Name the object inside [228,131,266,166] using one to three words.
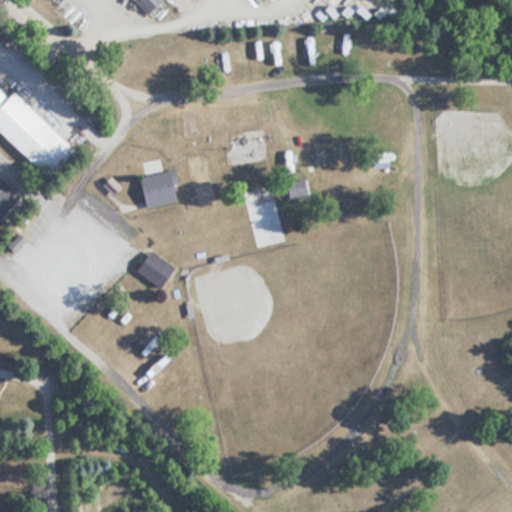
playground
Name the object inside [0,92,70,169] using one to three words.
building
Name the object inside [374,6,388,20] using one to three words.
vehicle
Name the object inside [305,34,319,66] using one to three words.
vehicle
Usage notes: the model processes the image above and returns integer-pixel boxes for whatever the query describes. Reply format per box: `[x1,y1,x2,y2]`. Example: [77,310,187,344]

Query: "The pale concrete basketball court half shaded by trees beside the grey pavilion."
[247,188,285,248]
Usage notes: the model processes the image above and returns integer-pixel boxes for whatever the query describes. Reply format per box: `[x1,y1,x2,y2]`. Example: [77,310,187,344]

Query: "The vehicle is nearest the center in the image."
[284,147,298,173]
